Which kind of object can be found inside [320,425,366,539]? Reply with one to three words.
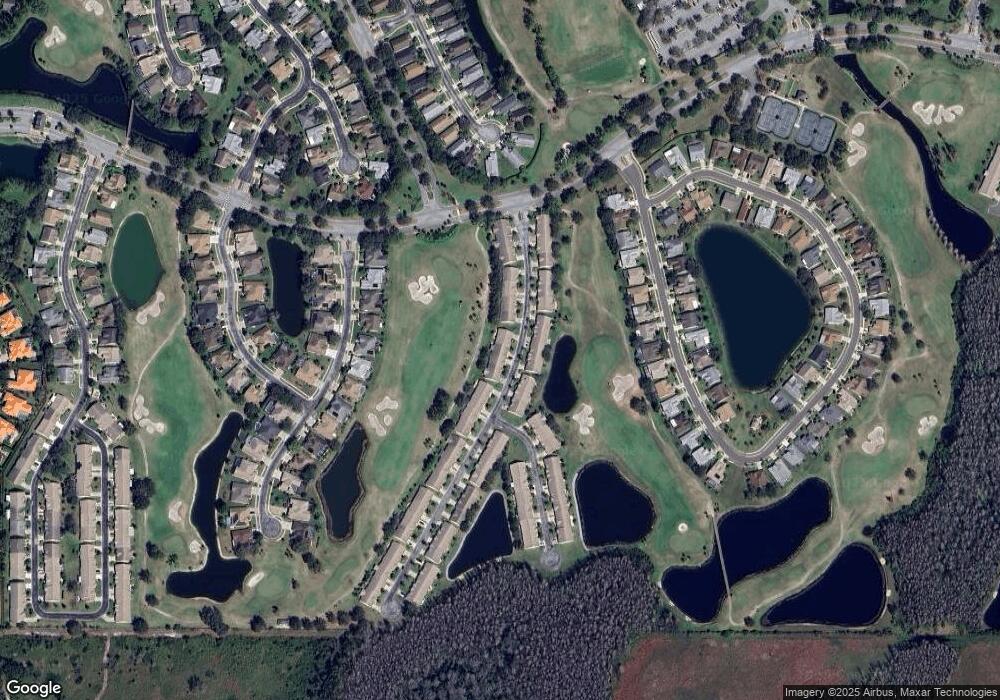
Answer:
pond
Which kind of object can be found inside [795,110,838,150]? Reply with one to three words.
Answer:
tennis court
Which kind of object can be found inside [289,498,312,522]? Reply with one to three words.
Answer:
house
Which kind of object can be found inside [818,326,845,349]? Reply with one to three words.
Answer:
house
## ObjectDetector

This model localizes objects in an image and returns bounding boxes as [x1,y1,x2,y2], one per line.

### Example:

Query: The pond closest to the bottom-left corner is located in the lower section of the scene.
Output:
[167,412,252,601]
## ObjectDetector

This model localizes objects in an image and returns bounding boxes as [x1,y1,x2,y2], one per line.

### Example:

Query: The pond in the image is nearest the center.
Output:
[544,335,577,413]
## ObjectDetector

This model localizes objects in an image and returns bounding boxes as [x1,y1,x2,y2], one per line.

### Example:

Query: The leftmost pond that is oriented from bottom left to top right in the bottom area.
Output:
[448,492,514,579]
